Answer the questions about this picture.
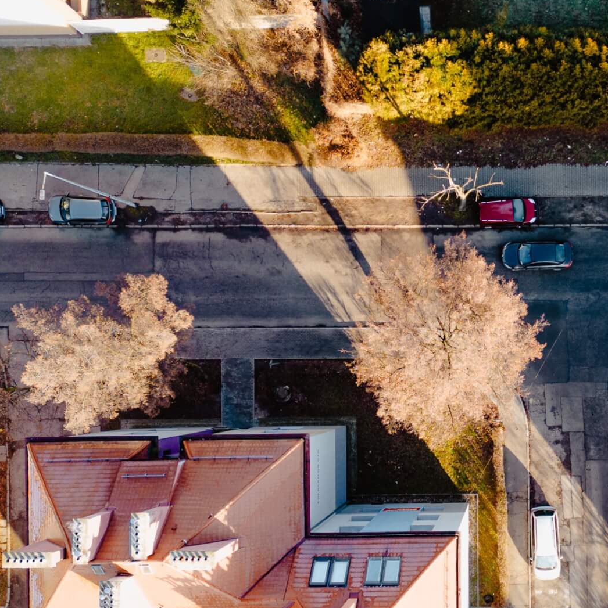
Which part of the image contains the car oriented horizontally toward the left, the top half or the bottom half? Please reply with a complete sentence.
You can find the car oriented horizontally toward the left in the top half.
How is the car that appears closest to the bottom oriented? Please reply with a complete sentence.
From this overhead view, the car that appears closest to the bottom appears to run up and down.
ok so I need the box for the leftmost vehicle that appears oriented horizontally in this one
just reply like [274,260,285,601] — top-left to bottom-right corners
[50,193,121,226]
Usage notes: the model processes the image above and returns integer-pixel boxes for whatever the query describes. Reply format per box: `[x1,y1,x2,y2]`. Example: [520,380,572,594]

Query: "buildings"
[0,0,90,35]
[3,427,470,608]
